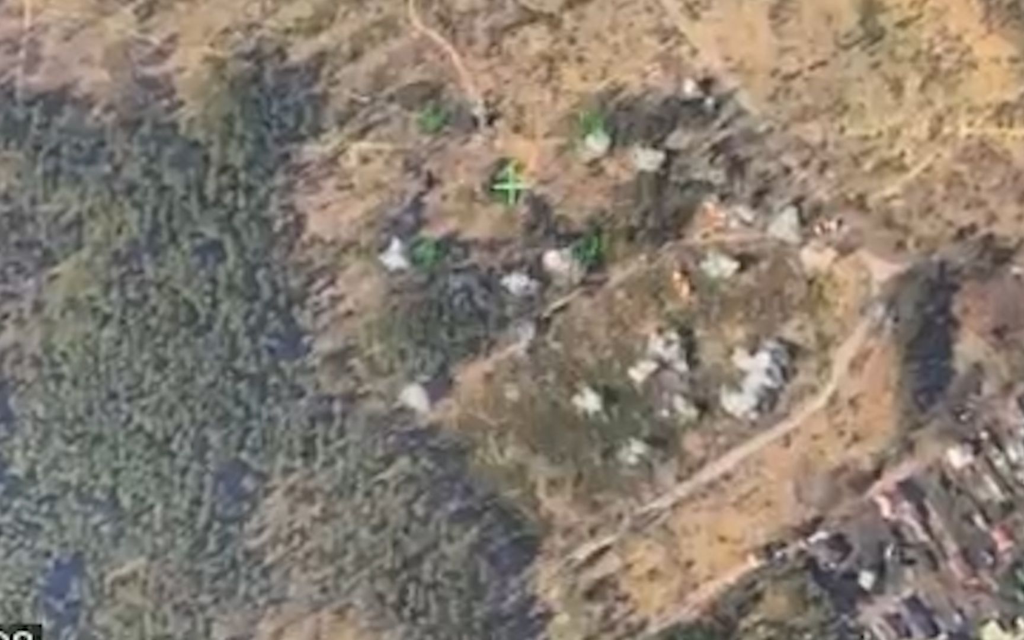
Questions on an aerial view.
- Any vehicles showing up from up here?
No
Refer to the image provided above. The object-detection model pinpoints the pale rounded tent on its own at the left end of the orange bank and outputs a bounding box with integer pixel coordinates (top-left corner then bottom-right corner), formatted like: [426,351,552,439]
[400,385,430,419]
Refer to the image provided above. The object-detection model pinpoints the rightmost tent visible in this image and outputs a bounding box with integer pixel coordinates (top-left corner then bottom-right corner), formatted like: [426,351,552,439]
[767,207,802,242]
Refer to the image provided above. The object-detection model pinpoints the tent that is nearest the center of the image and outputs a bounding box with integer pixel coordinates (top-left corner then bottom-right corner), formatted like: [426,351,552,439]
[542,251,568,276]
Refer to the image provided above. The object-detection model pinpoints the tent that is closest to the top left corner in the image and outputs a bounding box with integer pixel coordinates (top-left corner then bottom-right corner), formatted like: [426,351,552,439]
[378,242,415,275]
